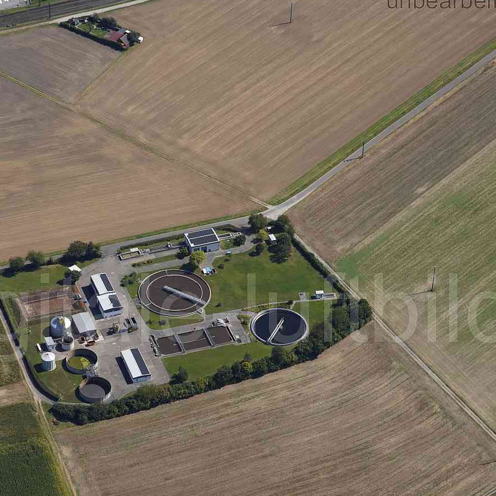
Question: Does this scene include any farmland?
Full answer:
Yes, some farmland is visible.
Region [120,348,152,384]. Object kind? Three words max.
shed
